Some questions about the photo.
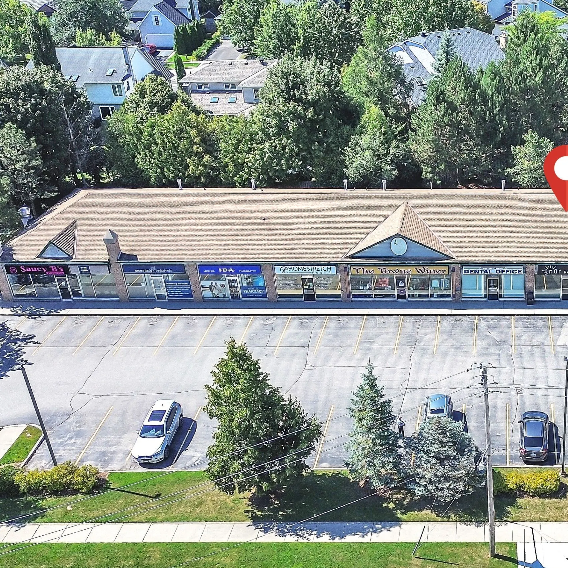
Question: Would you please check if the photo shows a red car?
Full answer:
No, there's no red car here.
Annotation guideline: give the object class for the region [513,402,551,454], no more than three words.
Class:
car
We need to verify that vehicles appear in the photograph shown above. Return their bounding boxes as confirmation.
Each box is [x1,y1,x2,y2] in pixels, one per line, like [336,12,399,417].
[137,388,195,455]
[513,402,551,454]
[421,393,460,427]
